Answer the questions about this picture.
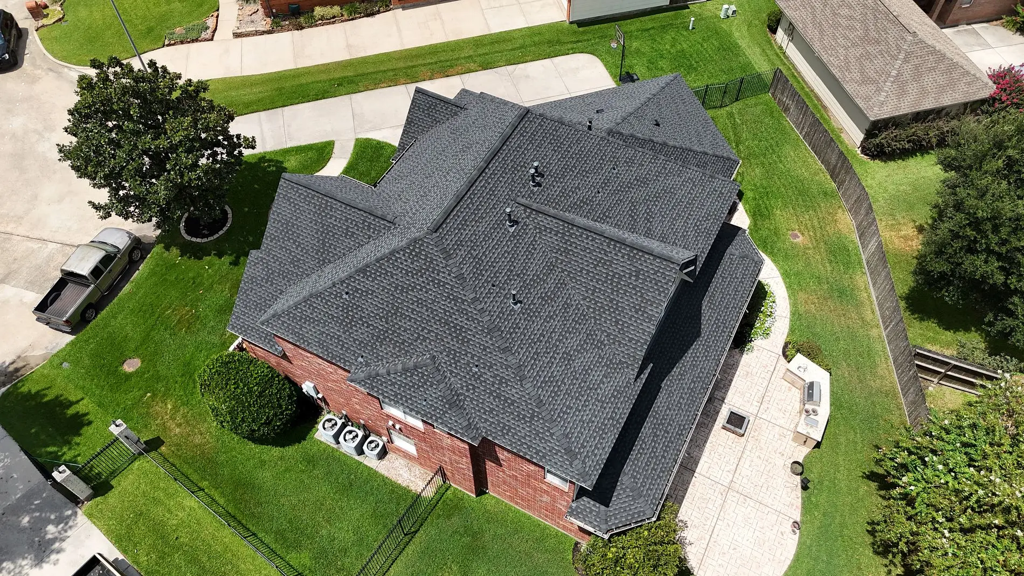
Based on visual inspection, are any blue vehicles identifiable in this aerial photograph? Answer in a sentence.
No, the frame has no blue vehicle in it.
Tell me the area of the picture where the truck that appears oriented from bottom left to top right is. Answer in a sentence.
Look in the left portion of the view to spot the truck that appears oriented from bottom left to top right.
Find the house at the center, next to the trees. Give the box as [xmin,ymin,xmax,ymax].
[226,72,767,544]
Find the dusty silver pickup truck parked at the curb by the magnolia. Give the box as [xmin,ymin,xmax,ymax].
[26,229,143,339]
